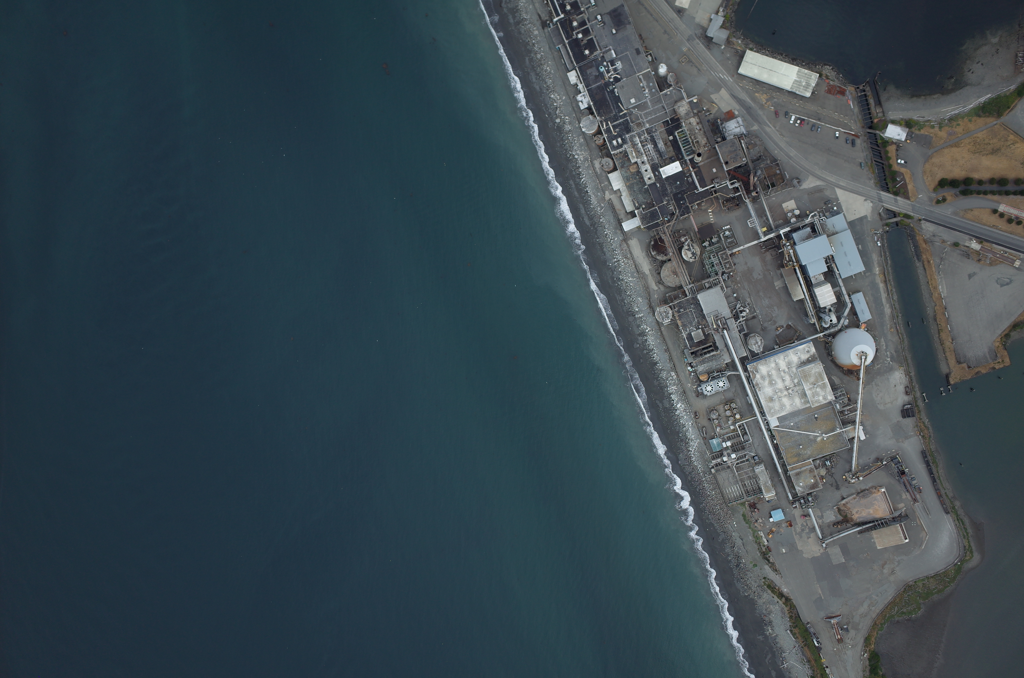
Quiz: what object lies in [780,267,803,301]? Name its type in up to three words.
shed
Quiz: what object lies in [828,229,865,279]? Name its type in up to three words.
building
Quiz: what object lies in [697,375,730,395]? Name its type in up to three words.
cooling tower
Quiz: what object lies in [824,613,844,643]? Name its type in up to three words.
vehicle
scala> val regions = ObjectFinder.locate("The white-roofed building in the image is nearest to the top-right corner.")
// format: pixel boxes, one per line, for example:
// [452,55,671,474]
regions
[883,123,909,142]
